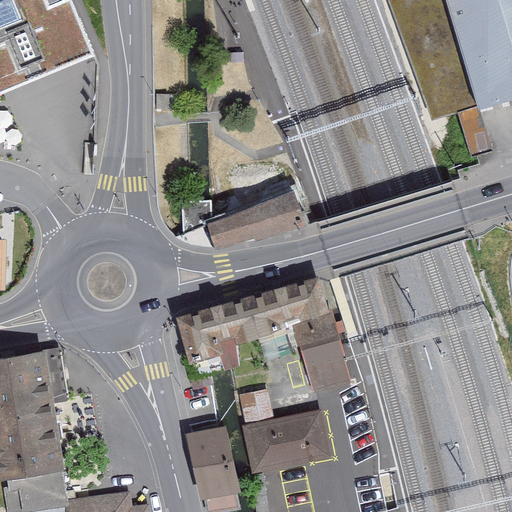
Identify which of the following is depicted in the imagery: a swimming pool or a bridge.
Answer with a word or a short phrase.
bridge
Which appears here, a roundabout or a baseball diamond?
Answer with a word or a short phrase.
roundabout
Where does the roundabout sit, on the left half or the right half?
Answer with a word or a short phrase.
left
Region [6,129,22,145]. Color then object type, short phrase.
white umbrella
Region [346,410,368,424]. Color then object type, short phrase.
white car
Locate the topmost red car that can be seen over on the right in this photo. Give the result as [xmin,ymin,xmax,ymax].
[356,433,374,446]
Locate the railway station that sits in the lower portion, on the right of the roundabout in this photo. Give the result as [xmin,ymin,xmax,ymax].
[329,275,412,512]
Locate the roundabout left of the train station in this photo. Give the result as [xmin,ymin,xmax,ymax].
[38,212,176,352]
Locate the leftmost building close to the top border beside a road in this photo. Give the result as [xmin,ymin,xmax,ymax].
[0,0,92,92]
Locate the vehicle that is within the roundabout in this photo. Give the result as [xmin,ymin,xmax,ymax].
[140,299,160,312]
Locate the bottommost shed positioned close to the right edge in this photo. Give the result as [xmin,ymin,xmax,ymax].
[459,106,493,156]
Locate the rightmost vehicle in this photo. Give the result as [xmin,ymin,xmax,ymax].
[482,183,505,196]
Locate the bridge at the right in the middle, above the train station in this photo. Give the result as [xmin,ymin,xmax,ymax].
[310,182,471,279]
